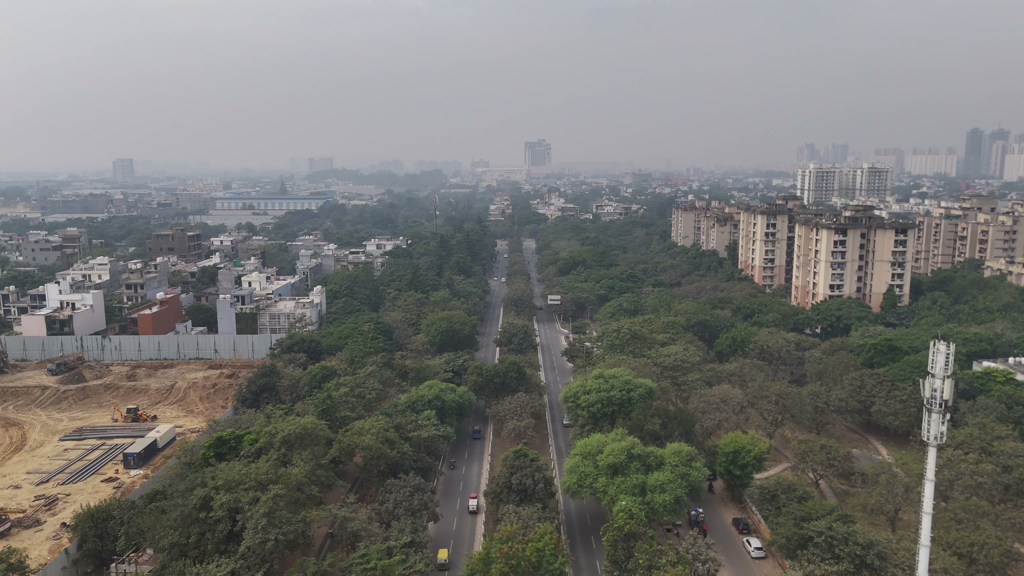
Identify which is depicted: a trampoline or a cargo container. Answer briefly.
cargo container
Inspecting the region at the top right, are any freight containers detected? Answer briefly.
No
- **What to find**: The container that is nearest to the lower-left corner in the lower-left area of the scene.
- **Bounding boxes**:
[120,437,157,468]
